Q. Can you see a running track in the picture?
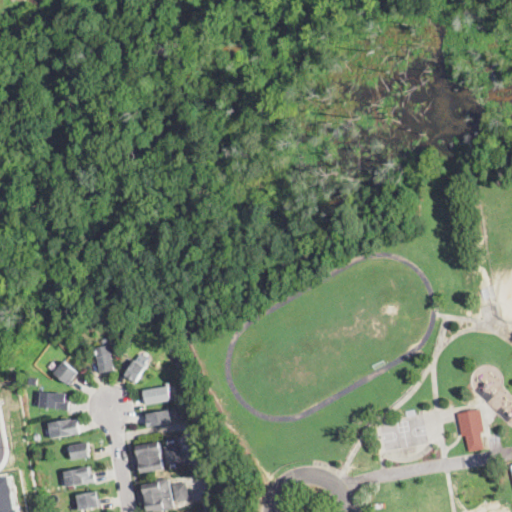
Yes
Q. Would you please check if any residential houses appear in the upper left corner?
No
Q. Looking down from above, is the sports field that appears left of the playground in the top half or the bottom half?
bottom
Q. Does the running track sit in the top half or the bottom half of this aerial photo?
bottom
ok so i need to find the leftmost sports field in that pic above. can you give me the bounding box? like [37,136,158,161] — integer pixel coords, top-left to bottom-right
[231,258,432,416]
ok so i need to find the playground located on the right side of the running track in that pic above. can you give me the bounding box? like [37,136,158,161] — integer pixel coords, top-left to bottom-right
[470,362,512,426]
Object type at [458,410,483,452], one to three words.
building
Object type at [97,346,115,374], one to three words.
house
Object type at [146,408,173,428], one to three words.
house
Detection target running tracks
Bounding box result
[226,253,436,422]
